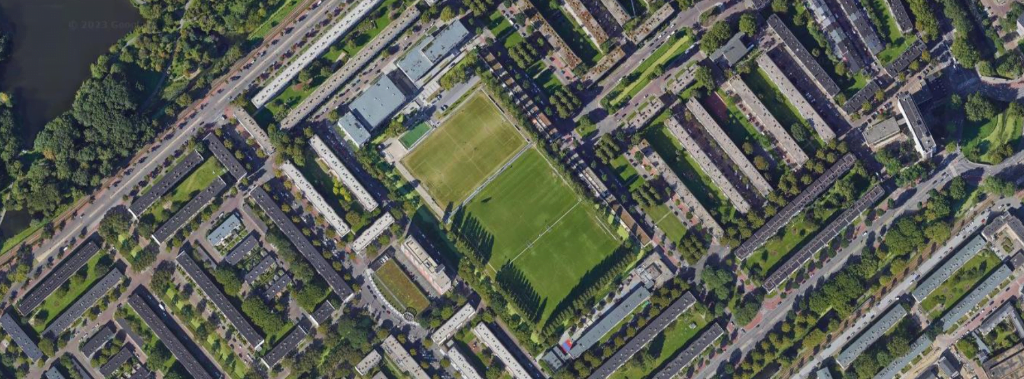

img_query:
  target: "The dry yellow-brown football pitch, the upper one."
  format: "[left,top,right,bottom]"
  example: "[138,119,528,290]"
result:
[402,92,527,215]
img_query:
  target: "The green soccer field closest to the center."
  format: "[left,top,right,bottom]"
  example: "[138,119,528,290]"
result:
[453,147,581,280]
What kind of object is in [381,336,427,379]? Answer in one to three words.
building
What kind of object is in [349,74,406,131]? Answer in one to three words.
building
